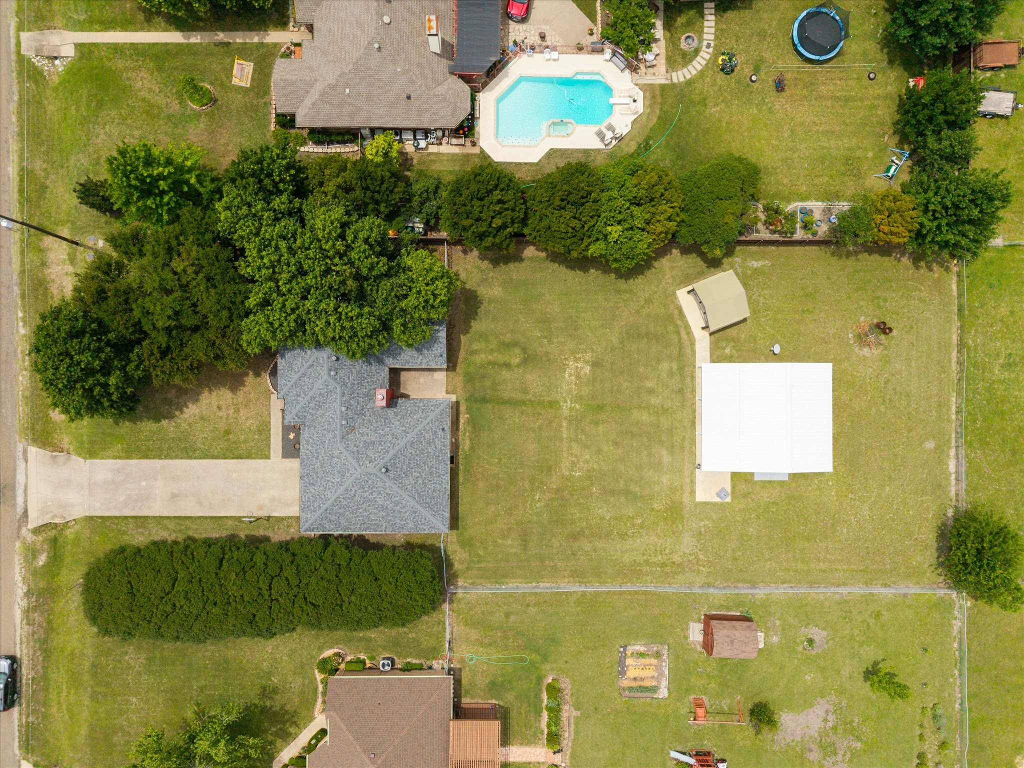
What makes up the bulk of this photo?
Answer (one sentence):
The scene is dominated by grass.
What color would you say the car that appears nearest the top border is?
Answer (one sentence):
The car that appears nearest the top border is red.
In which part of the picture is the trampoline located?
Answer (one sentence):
The trampoline is in the top right part of the image.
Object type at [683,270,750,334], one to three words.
shed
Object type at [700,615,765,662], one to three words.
shed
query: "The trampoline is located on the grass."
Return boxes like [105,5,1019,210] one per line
[789,0,860,70]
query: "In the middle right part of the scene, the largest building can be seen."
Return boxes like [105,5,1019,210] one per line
[694,363,832,473]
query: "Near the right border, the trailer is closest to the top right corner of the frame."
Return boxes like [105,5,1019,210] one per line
[980,38,1024,72]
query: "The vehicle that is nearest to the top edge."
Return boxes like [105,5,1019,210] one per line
[504,0,530,22]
